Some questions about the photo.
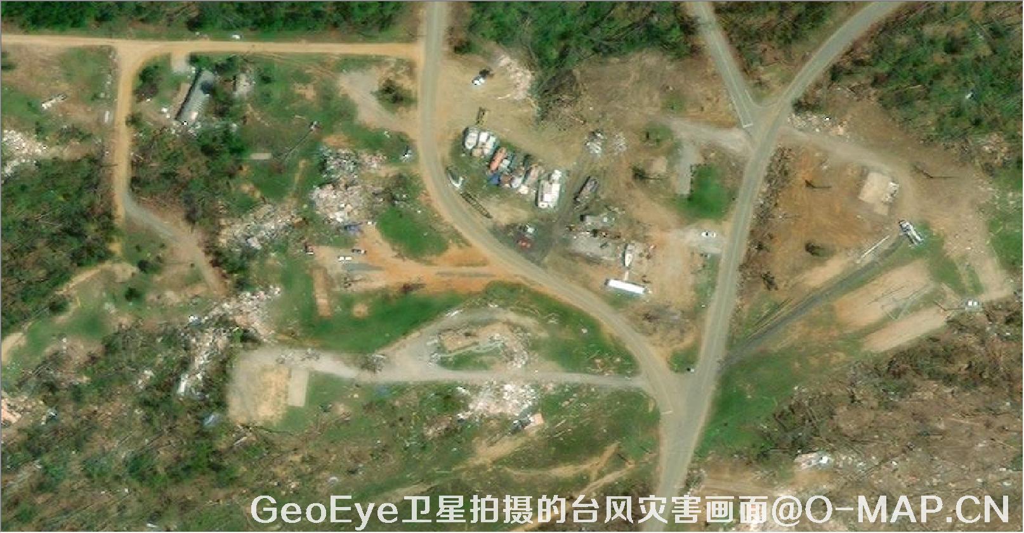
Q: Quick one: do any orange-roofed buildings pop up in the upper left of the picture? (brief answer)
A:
No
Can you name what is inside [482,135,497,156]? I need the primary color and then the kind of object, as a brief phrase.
white camper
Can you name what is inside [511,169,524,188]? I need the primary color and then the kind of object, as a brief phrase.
white boat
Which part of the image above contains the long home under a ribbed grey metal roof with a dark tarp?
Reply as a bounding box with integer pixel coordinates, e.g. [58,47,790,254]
[179,68,212,125]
